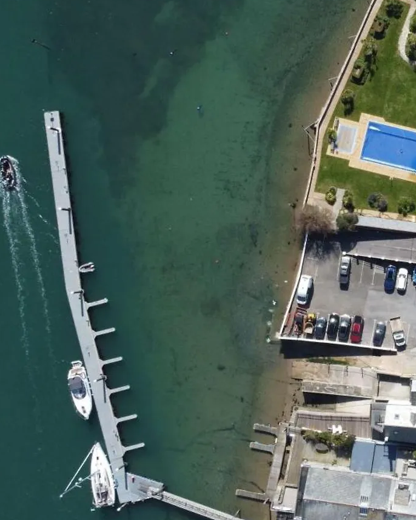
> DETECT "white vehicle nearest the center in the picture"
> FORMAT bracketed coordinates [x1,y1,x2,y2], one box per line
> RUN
[294,277,315,304]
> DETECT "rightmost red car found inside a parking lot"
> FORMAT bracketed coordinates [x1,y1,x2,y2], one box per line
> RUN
[349,317,366,343]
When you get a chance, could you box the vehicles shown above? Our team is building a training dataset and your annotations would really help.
[294,277,315,304]
[303,317,315,339]
[291,305,303,334]
[338,316,352,343]
[383,266,397,291]
[349,317,366,343]
[325,313,340,341]
[315,317,328,339]
[372,321,388,345]
[339,257,352,286]
[386,318,406,349]
[396,269,409,292]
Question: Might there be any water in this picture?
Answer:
Yes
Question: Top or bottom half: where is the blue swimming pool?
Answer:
top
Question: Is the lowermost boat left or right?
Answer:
left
